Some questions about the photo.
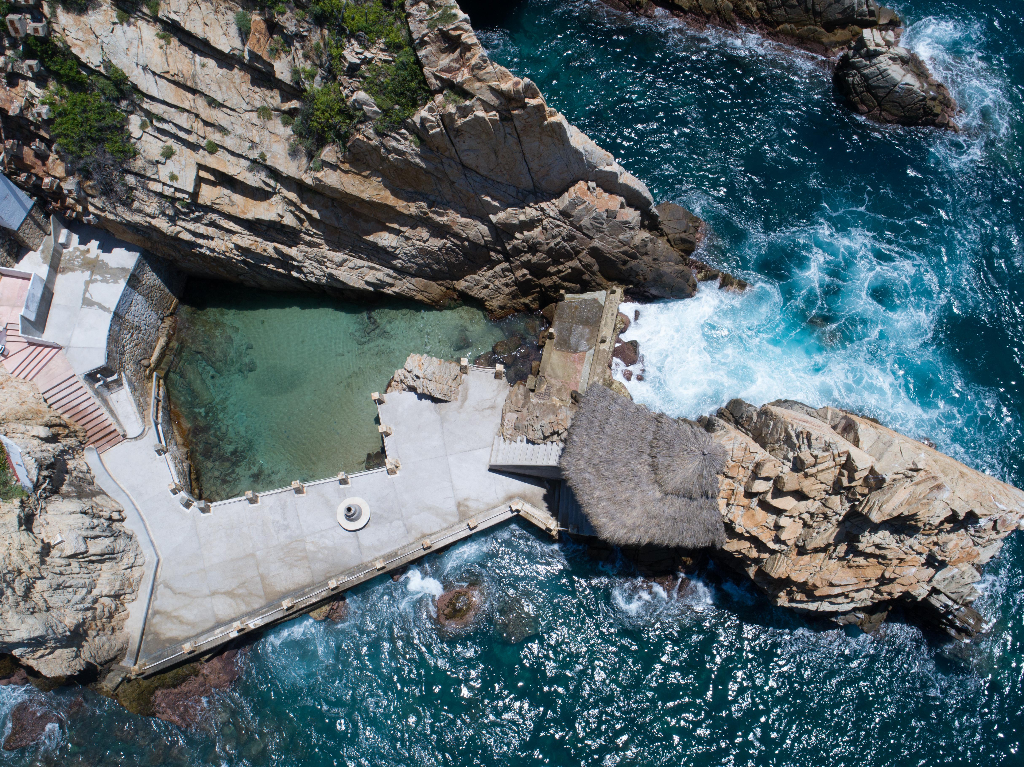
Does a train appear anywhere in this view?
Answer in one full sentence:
No, the scene contains no train.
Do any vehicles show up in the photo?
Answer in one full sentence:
No, I find no vehicle anywhere in the image.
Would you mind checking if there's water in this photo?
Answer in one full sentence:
Yes, there is water in the image.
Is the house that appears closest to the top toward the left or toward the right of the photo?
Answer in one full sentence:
The house that appears closest to the top sits on the left side.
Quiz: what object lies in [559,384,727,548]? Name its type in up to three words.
shed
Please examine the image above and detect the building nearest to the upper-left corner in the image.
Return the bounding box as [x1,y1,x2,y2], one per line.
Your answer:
[0,174,84,277]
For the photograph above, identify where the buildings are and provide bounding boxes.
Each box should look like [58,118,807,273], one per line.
[0,174,84,277]
[559,384,727,548]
